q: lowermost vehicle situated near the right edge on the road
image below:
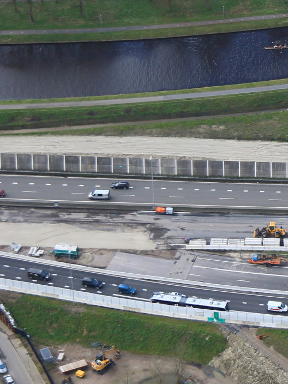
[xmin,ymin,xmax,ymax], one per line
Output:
[266,299,288,312]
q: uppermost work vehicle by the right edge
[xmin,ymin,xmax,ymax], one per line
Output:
[251,222,285,238]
